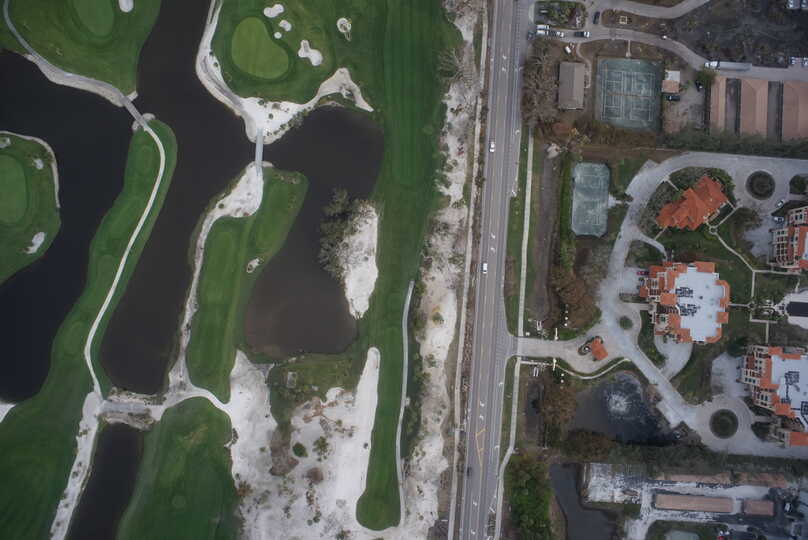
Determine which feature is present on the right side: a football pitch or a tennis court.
tennis court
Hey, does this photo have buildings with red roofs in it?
Yes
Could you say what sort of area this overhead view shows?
golf course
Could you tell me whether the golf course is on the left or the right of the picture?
left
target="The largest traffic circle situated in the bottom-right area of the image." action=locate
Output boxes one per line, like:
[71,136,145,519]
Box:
[705,404,743,442]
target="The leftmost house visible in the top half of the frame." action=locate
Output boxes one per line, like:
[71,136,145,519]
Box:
[558,60,585,111]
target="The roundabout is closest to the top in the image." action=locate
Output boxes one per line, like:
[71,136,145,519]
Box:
[744,167,778,202]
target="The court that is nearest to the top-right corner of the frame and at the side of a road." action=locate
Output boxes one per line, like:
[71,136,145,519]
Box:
[596,54,667,131]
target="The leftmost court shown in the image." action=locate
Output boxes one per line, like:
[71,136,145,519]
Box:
[572,161,612,237]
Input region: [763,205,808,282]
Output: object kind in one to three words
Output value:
building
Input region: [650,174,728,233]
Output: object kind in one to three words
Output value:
building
